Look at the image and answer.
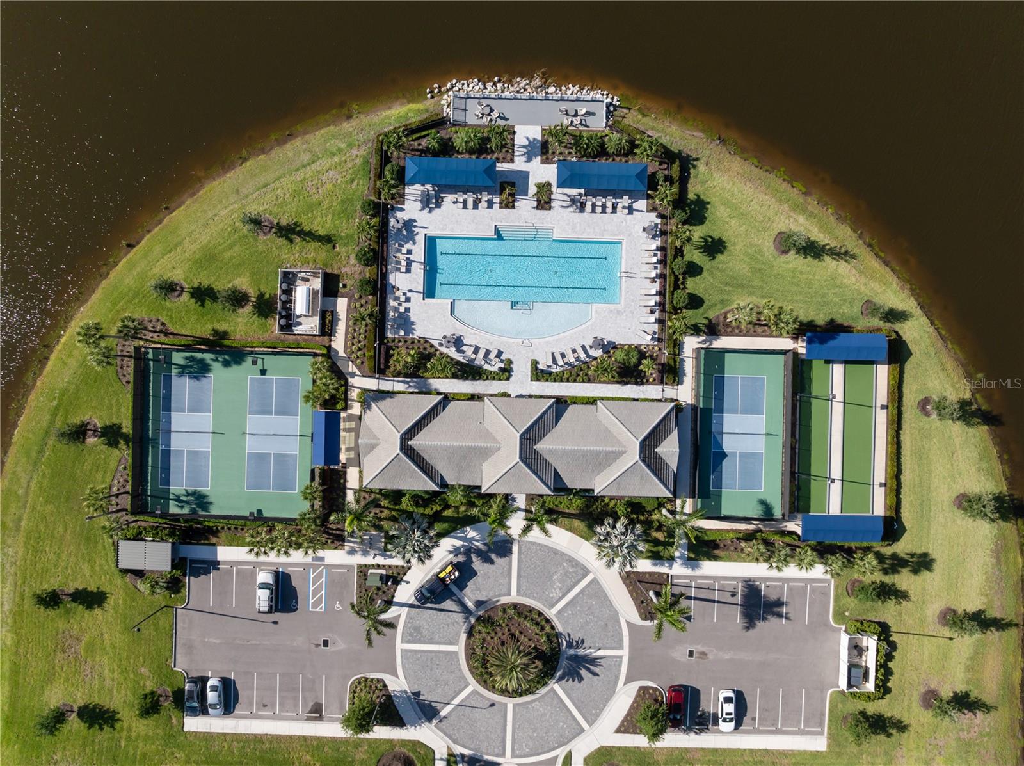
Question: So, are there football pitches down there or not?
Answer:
No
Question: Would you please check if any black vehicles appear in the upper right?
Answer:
No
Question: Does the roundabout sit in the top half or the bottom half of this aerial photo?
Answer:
bottom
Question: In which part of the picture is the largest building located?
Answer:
center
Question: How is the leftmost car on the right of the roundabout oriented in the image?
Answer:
from top to bottom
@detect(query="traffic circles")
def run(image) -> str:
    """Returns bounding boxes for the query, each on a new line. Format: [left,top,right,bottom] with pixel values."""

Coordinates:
[390,531,635,766]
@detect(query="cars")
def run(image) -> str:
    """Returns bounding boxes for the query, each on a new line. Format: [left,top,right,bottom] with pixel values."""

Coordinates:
[180,675,202,717]
[256,569,278,614]
[717,689,737,732]
[666,686,686,727]
[203,677,224,717]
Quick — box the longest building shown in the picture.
[358,392,680,498]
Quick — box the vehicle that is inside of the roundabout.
[416,558,464,603]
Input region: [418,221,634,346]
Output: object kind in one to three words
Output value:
swimming pool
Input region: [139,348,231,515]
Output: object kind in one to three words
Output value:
sports court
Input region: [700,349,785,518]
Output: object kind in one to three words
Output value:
sports court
